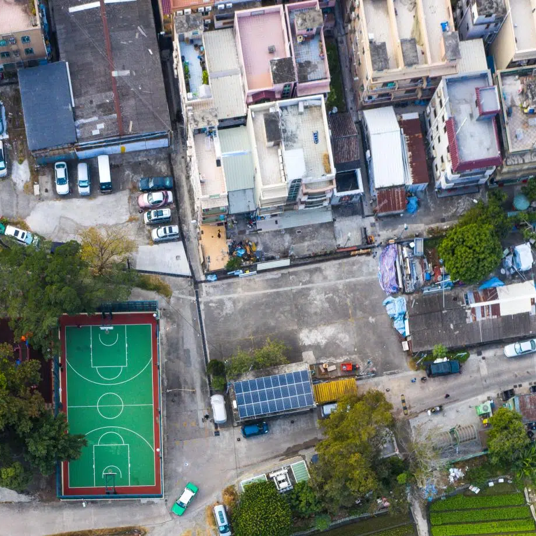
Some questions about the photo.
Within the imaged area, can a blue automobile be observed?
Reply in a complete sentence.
Yes, a blue automobile is visible in the scene.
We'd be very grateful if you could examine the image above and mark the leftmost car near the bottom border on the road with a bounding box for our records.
[173,482,199,517]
